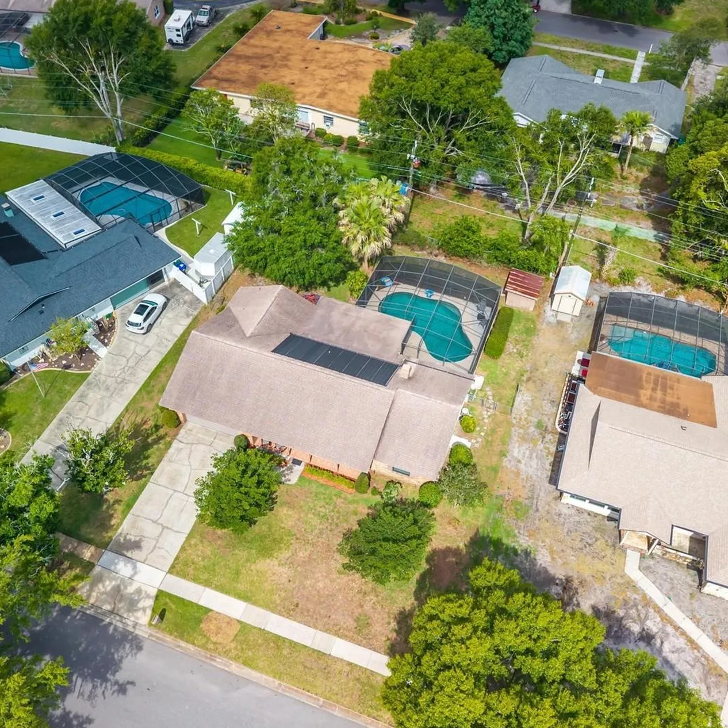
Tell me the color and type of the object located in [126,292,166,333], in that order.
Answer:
white car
